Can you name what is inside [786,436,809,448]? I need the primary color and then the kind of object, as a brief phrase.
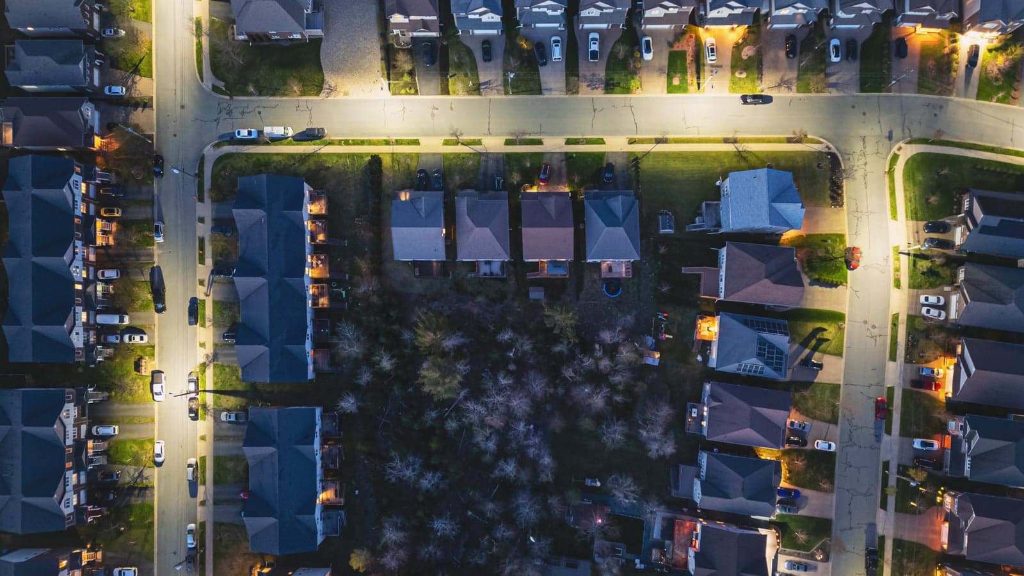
black vehicle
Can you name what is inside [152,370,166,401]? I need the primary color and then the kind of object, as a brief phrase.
white vehicle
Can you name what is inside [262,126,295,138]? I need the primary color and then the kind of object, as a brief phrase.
white vehicle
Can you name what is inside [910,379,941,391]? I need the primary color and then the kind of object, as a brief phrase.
red vehicle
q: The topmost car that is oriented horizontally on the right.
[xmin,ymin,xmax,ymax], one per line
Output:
[740,93,767,106]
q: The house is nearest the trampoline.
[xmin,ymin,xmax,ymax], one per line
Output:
[583,190,640,277]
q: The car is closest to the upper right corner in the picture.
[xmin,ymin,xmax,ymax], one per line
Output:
[965,44,981,70]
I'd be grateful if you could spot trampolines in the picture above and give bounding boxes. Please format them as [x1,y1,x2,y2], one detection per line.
[603,278,622,298]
